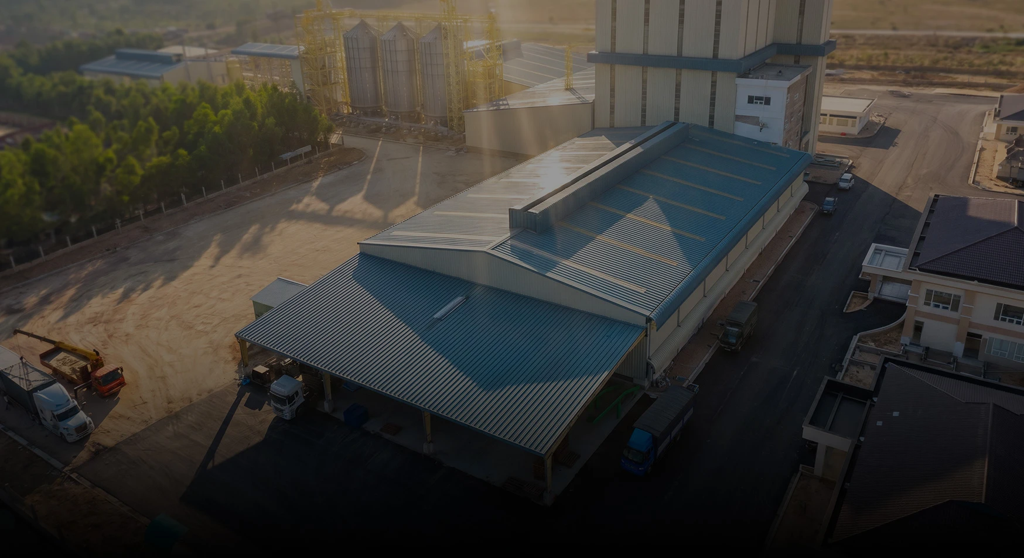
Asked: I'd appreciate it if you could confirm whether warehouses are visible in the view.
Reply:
Yes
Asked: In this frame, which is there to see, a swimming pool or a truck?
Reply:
truck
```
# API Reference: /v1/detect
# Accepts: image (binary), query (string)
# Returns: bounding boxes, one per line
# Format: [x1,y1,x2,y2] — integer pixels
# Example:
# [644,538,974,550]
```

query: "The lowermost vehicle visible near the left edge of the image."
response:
[27,380,93,440]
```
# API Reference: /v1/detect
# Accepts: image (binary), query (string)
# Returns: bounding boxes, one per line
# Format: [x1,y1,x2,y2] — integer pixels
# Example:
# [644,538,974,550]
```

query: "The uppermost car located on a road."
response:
[838,173,853,188]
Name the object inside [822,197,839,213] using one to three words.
vehicle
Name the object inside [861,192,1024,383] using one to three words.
house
